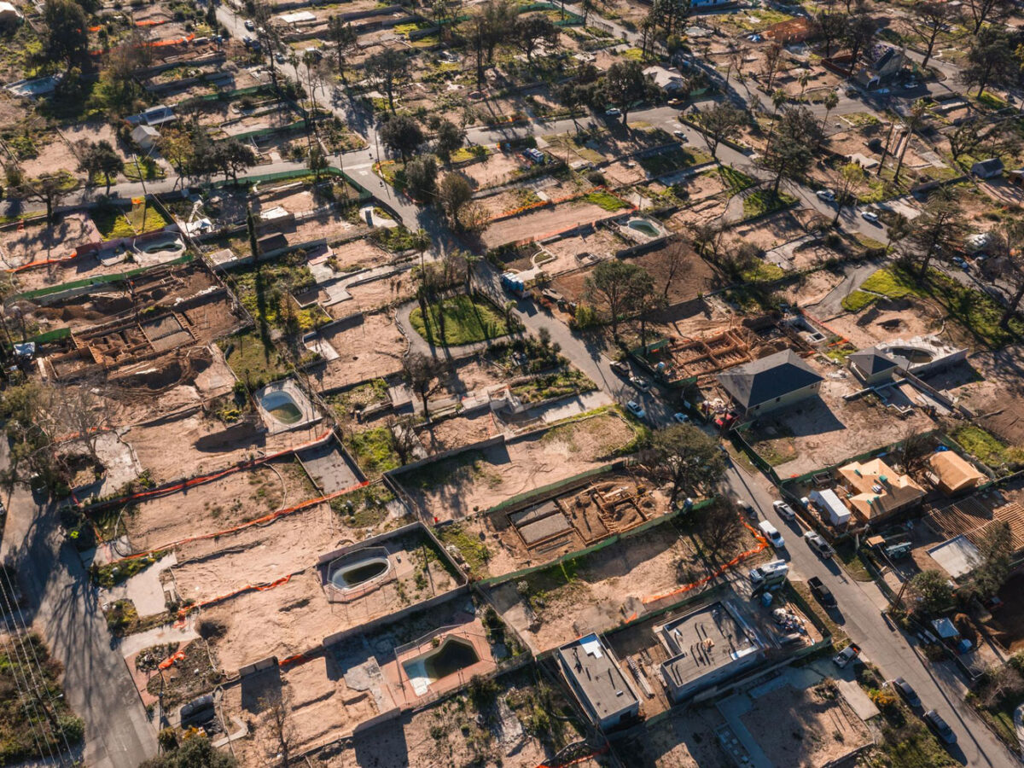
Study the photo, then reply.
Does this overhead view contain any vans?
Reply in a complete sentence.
Yes, there's a van here.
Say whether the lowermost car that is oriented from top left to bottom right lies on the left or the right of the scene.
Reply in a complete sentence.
The lowermost car that is oriented from top left to bottom right is on the right side of the image.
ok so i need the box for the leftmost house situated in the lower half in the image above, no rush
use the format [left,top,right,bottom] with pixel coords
[558,633,639,737]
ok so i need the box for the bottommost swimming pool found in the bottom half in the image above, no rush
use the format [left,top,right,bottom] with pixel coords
[383,624,495,703]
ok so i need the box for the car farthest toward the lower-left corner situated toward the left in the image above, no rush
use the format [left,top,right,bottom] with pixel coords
[174,693,220,722]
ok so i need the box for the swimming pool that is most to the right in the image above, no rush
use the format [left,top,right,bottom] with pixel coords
[876,341,950,372]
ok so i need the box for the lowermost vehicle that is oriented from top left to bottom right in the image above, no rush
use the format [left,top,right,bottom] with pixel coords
[921,704,965,750]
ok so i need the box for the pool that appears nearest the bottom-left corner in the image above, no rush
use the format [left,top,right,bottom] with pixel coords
[322,546,399,604]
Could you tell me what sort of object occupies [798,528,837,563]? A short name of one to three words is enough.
truck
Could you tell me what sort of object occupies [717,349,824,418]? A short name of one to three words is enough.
house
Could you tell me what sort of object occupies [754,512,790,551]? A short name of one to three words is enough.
van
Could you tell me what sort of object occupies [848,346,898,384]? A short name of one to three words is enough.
building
